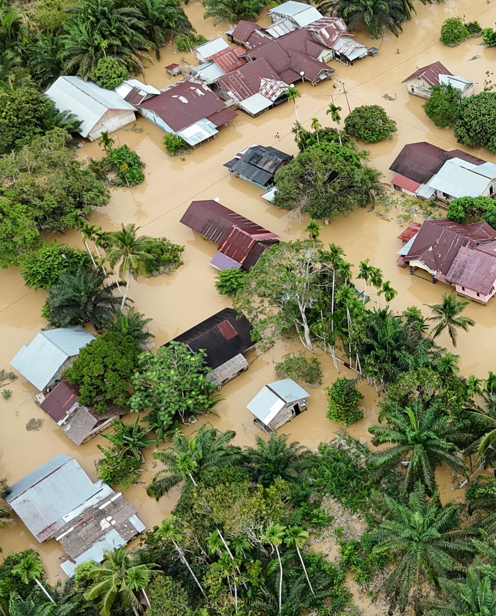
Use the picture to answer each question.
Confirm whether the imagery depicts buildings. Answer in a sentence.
Yes, the image includes a building.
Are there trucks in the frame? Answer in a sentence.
No, there's no truck here.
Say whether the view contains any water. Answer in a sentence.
Yes, there's water in this view.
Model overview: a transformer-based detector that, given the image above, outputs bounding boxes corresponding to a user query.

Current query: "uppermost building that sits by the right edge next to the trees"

[409,61,473,98]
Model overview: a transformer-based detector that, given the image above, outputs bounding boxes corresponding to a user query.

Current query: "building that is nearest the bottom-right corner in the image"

[248,379,309,436]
